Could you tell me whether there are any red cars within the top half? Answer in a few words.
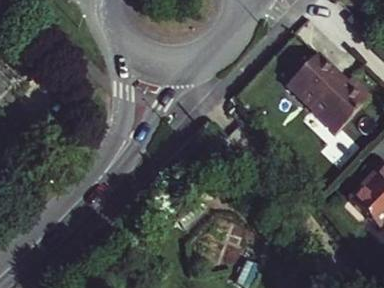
No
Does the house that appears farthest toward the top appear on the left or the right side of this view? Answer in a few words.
right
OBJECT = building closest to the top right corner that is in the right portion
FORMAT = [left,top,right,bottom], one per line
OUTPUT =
[288,52,378,132]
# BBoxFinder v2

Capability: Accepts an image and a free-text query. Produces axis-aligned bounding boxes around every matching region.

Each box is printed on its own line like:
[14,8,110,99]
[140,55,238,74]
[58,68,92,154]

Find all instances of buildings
[355,166,384,226]
[236,260,256,288]
[288,52,378,132]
